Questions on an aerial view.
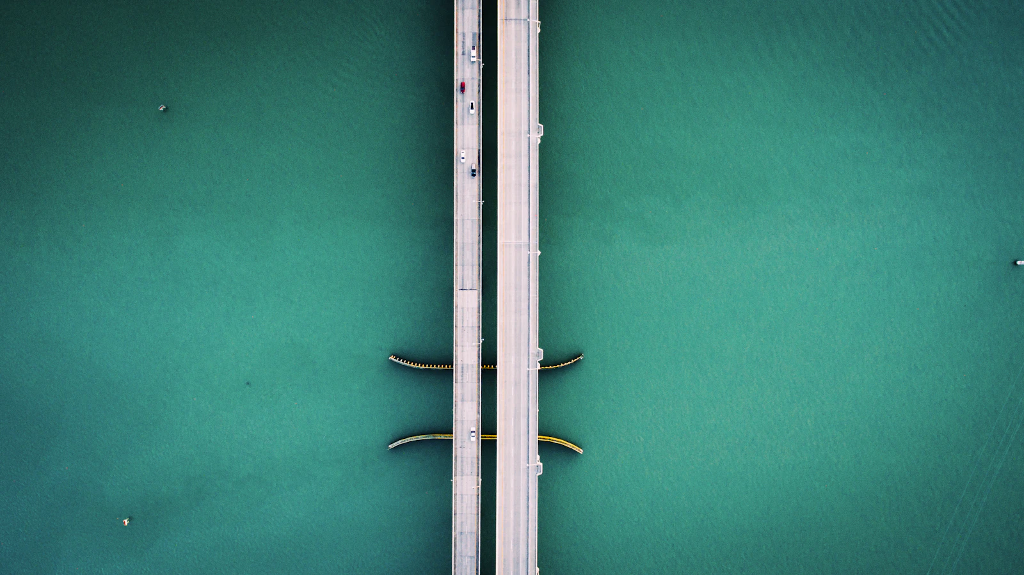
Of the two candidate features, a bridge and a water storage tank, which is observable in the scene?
bridge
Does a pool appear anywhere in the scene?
No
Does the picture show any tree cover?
No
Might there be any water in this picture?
Yes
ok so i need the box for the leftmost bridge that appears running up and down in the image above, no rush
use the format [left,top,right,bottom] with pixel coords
[452,0,482,575]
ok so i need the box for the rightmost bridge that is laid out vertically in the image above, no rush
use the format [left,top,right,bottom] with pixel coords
[496,0,544,575]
